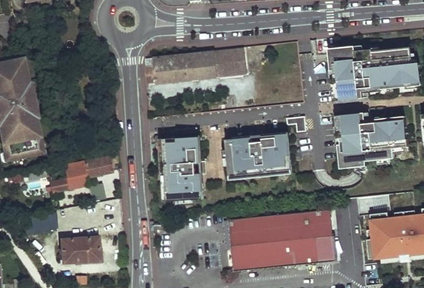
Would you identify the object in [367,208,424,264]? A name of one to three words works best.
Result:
house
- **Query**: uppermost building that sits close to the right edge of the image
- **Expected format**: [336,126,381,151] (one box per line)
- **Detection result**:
[327,47,421,102]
